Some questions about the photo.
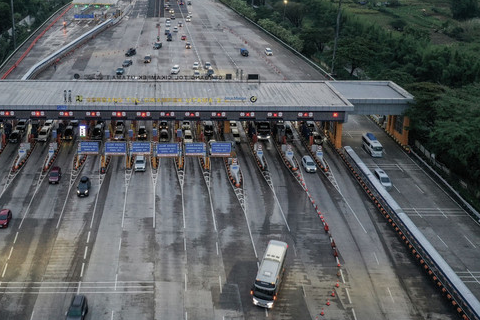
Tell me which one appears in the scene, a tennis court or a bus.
bus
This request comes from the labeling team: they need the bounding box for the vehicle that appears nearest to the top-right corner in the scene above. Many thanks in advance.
[363,134,386,156]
